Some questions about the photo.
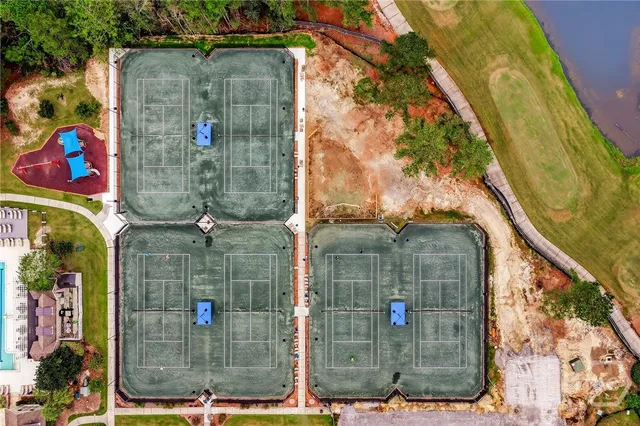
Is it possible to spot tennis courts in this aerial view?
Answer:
Yes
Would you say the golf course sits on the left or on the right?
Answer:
right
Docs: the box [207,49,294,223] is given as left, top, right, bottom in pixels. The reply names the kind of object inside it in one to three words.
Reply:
tennis court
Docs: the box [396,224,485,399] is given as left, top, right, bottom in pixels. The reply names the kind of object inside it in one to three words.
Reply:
tennis court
